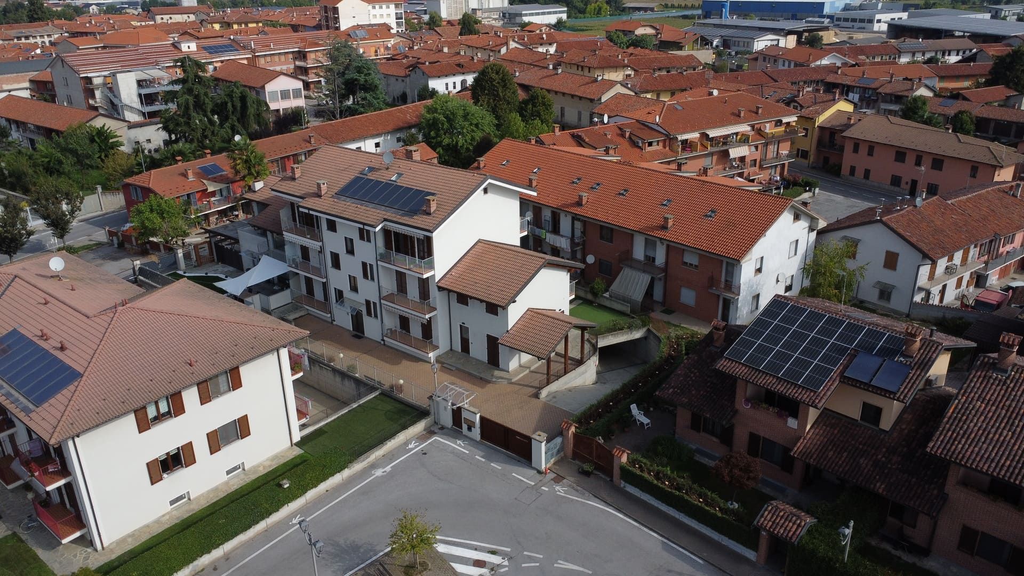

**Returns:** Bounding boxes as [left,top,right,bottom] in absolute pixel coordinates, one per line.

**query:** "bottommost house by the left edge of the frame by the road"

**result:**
[0,233,313,551]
